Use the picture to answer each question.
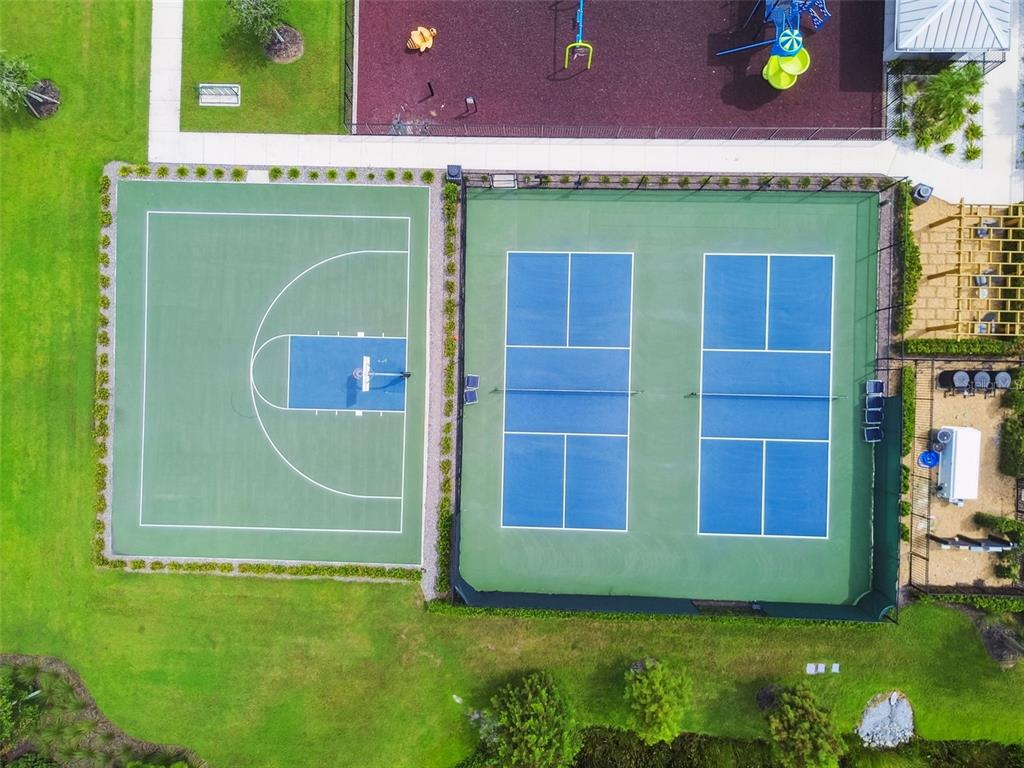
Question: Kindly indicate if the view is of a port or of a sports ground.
sports ground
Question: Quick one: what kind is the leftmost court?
basketball court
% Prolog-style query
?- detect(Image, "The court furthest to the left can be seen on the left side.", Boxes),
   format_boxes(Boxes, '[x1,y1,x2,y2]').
[110,178,431,567]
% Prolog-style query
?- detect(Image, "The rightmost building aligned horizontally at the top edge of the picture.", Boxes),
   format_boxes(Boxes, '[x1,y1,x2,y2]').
[886,0,1011,62]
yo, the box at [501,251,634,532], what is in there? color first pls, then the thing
blue sports court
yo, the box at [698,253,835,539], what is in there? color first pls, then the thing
blue sports court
